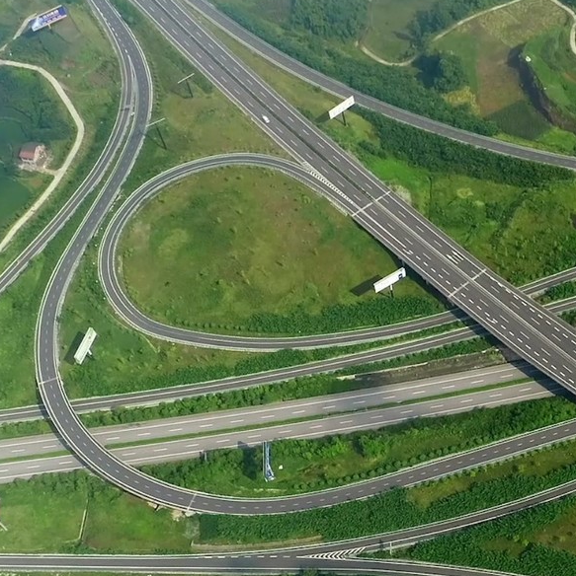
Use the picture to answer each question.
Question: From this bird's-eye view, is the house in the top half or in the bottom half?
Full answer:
You can find the house in the top half.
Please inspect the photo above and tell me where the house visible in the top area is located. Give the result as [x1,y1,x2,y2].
[17,143,43,164]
